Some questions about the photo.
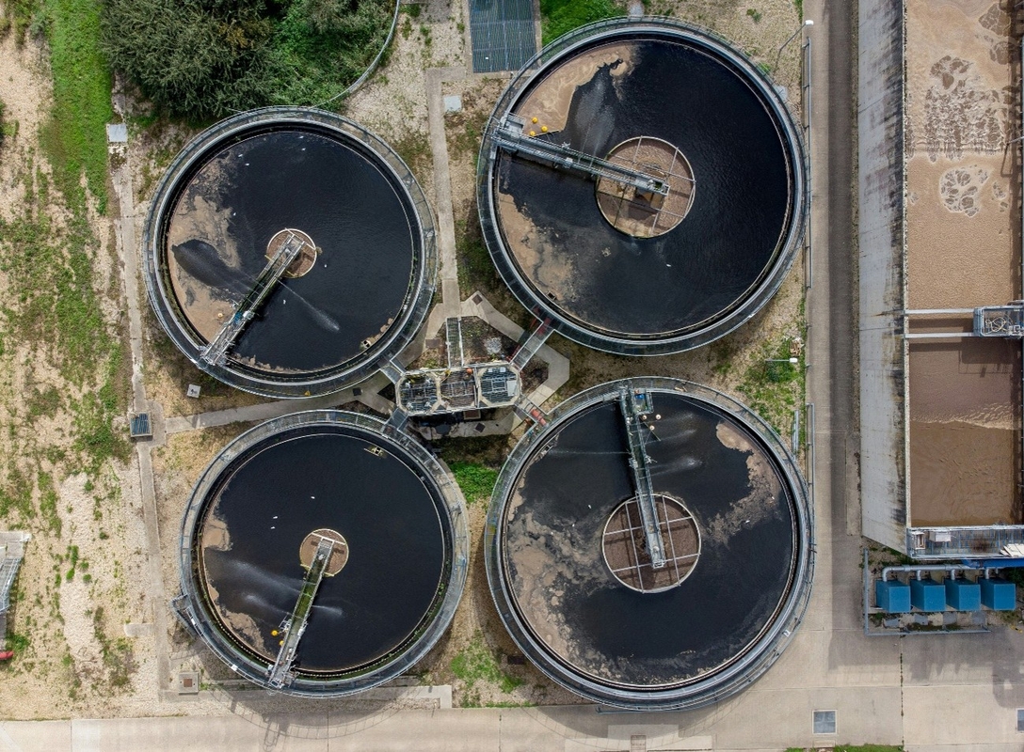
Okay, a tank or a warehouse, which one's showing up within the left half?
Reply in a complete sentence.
The one visible within the left half is a tank.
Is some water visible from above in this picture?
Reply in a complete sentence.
Yes, water can be seen from above here.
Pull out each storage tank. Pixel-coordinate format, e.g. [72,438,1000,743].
[180,410,469,698]
[477,19,811,354]
[144,106,436,397]
[484,377,816,709]
[857,0,1022,556]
